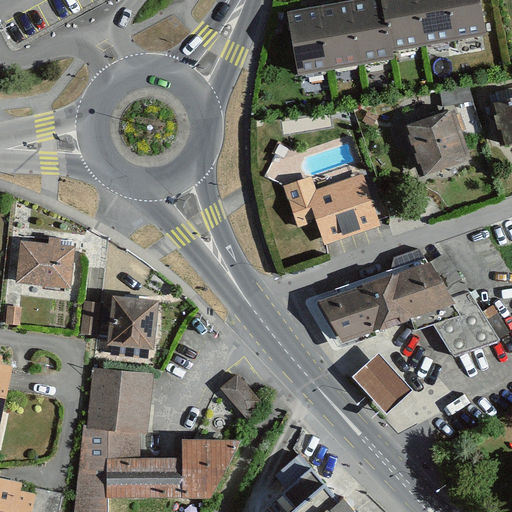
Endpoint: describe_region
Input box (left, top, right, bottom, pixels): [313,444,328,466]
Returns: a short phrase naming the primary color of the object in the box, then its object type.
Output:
blue car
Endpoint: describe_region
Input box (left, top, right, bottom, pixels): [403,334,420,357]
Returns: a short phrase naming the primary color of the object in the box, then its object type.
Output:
red car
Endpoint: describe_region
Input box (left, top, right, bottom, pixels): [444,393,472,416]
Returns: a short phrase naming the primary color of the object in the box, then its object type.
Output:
white camper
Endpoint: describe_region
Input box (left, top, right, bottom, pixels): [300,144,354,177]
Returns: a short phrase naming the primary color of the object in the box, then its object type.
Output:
blue swimming pool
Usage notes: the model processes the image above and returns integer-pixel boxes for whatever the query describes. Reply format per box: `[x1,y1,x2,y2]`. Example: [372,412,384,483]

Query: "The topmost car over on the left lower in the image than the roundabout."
[116,270,142,290]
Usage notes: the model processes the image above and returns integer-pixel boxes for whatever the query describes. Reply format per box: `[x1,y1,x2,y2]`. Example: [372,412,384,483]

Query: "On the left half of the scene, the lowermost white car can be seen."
[184,406,200,428]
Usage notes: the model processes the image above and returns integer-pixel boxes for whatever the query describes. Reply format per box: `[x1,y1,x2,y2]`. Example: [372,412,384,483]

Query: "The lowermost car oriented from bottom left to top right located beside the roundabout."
[181,33,205,56]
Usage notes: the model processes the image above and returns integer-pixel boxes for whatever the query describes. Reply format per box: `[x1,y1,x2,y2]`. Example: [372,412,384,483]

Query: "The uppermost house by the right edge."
[382,0,488,48]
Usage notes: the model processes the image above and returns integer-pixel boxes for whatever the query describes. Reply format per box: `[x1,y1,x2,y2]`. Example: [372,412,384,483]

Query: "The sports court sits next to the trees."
[282,115,334,136]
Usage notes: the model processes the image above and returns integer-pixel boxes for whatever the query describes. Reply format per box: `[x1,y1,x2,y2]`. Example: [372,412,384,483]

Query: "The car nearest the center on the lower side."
[192,316,208,335]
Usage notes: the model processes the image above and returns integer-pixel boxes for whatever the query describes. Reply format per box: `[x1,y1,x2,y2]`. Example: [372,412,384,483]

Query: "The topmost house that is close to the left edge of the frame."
[16,240,75,290]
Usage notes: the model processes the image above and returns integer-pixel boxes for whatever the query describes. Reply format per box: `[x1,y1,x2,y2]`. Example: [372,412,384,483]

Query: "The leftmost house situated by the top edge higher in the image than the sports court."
[287,0,395,74]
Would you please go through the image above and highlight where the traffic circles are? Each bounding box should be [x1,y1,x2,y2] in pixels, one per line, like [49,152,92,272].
[76,54,223,200]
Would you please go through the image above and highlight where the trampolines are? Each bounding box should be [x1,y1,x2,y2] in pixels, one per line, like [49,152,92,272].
[433,58,452,77]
